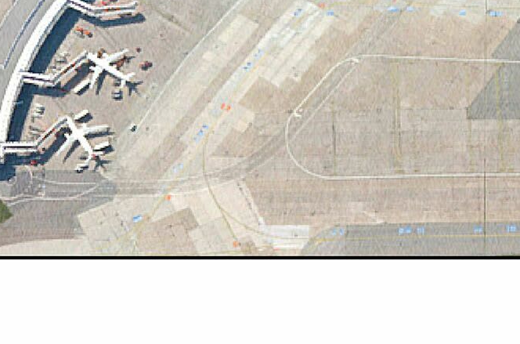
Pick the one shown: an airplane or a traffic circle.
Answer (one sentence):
Looking from above, you can make out an airplane.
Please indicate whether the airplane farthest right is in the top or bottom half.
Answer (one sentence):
The airplane farthest right sits in the top half of the picture.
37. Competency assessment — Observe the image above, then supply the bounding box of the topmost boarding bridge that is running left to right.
[68,0,139,21]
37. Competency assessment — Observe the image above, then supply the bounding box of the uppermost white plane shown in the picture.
[89,53,135,91]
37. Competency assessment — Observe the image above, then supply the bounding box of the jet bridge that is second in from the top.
[24,52,91,89]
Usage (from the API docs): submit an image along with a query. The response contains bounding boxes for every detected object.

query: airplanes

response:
[58,117,111,160]
[89,53,135,91]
